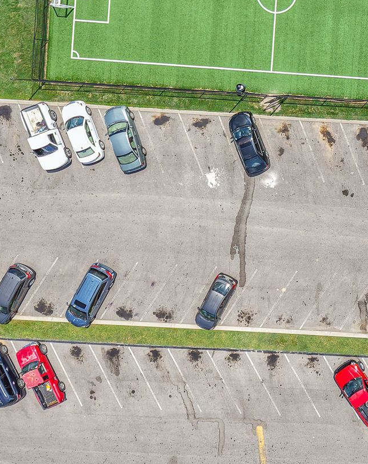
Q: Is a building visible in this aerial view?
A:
No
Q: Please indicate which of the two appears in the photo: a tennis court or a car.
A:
car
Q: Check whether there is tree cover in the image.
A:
No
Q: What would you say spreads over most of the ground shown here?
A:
paved ground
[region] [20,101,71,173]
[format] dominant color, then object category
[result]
white truck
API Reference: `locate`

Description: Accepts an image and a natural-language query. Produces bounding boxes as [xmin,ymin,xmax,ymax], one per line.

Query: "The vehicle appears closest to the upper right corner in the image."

[231,110,270,178]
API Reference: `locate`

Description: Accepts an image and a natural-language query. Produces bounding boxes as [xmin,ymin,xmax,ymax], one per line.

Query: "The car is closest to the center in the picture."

[195,271,239,330]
